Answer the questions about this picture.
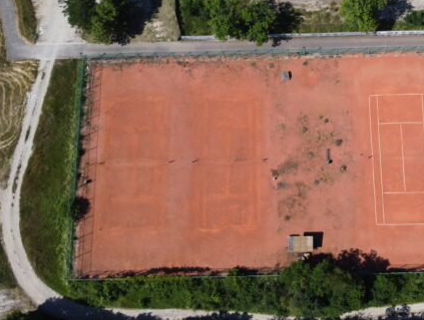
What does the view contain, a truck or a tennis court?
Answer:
tennis court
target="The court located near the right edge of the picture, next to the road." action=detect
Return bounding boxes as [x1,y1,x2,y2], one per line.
[352,70,424,252]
